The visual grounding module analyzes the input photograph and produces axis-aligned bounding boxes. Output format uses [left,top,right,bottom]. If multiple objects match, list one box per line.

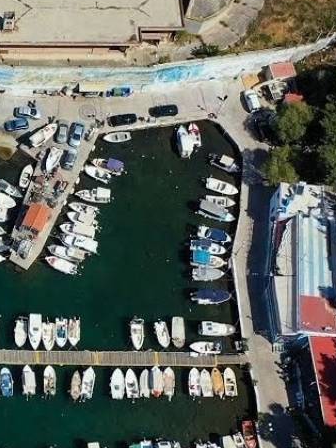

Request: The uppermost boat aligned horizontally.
[96,132,131,145]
